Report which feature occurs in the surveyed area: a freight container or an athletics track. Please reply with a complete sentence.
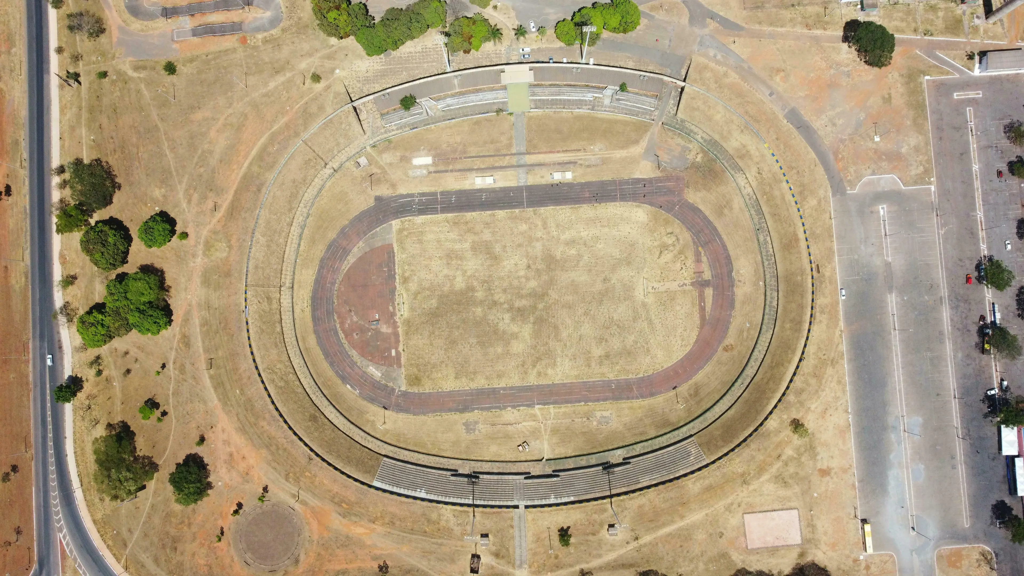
The one in the frame is an athletics track.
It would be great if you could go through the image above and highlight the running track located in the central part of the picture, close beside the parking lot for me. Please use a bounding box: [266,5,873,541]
[311,175,735,415]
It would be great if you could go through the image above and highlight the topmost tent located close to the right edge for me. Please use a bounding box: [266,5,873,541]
[996,424,1019,455]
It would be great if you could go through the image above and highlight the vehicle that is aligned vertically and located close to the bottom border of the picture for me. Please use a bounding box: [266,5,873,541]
[861,522,873,553]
